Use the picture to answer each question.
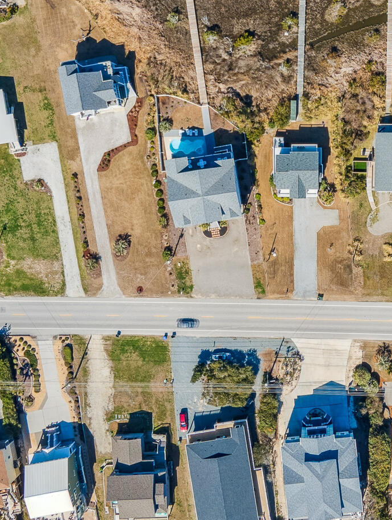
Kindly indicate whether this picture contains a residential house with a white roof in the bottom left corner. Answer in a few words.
Yes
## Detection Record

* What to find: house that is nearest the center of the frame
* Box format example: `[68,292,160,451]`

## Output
[164,145,242,230]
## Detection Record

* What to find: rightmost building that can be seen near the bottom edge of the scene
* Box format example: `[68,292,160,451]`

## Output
[282,405,363,520]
